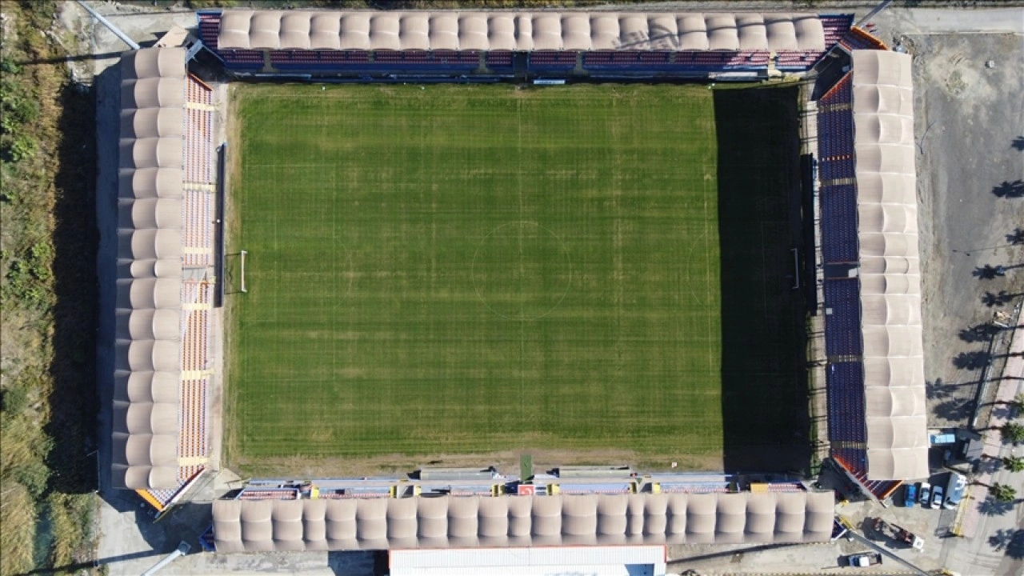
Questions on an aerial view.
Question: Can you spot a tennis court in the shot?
No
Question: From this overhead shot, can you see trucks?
Yes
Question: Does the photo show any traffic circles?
No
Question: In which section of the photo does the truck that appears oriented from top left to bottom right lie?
bottom right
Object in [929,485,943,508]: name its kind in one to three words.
car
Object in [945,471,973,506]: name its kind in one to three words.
van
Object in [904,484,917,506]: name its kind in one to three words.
vehicle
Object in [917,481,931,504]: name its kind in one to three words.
car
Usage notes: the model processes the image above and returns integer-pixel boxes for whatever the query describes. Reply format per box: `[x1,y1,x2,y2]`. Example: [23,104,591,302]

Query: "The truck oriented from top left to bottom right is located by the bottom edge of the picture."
[877,518,930,555]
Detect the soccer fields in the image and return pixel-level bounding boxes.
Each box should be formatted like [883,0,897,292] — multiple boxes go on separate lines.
[225,81,813,479]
